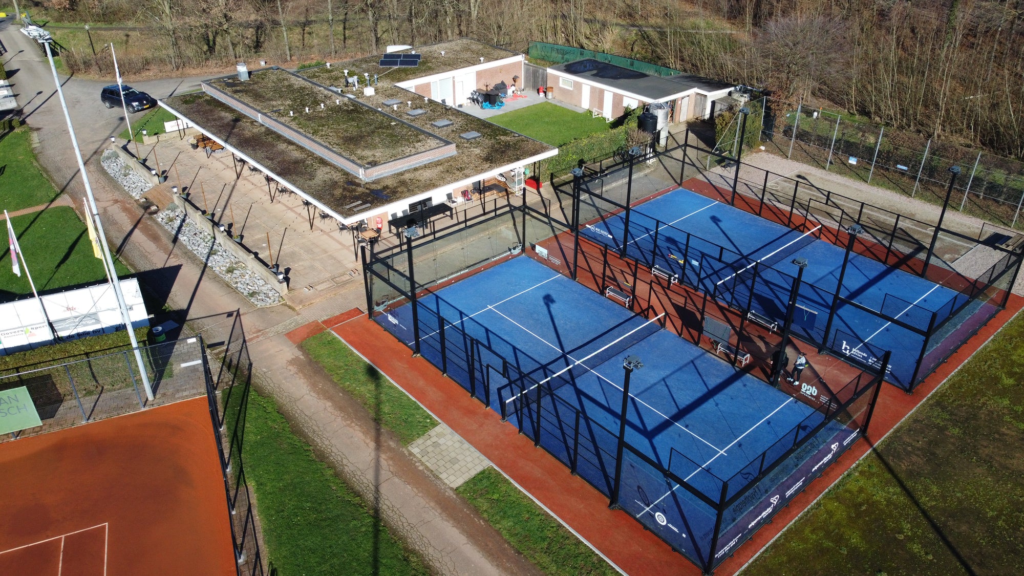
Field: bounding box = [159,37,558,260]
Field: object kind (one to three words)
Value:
building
